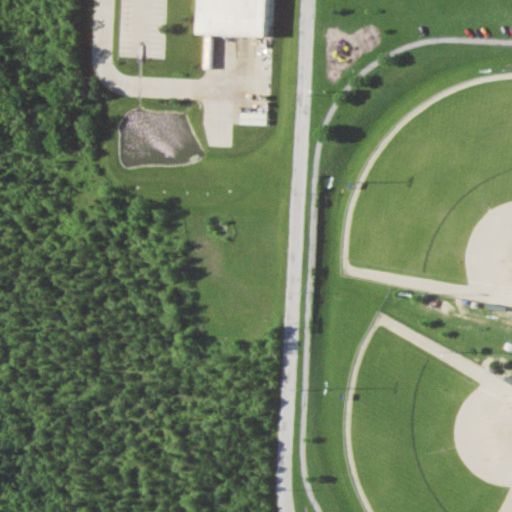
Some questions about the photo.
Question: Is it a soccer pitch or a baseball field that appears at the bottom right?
baseball field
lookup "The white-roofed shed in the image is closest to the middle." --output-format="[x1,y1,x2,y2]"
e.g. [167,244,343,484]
[240,112,269,126]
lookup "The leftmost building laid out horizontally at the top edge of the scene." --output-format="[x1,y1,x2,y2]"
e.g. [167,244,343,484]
[194,0,271,36]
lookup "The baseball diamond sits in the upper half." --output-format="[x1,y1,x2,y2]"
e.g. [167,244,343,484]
[343,73,512,308]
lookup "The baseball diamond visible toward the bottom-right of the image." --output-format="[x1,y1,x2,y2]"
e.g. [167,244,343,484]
[346,313,512,512]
